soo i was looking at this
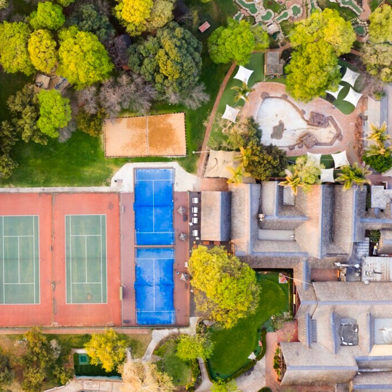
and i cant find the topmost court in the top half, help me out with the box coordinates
[105,112,187,158]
